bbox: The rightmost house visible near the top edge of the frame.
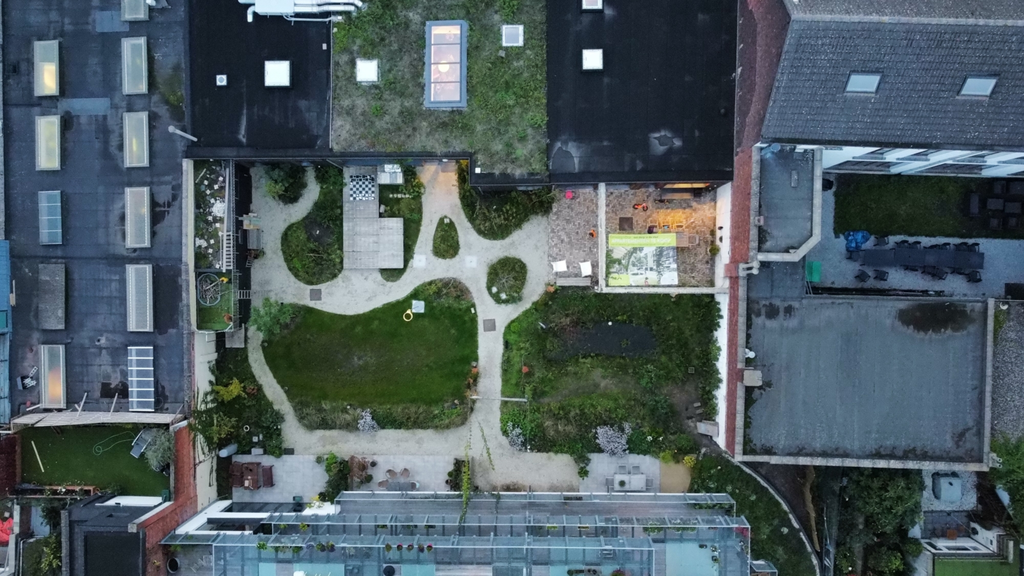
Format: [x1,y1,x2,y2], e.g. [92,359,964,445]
[734,0,1024,178]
